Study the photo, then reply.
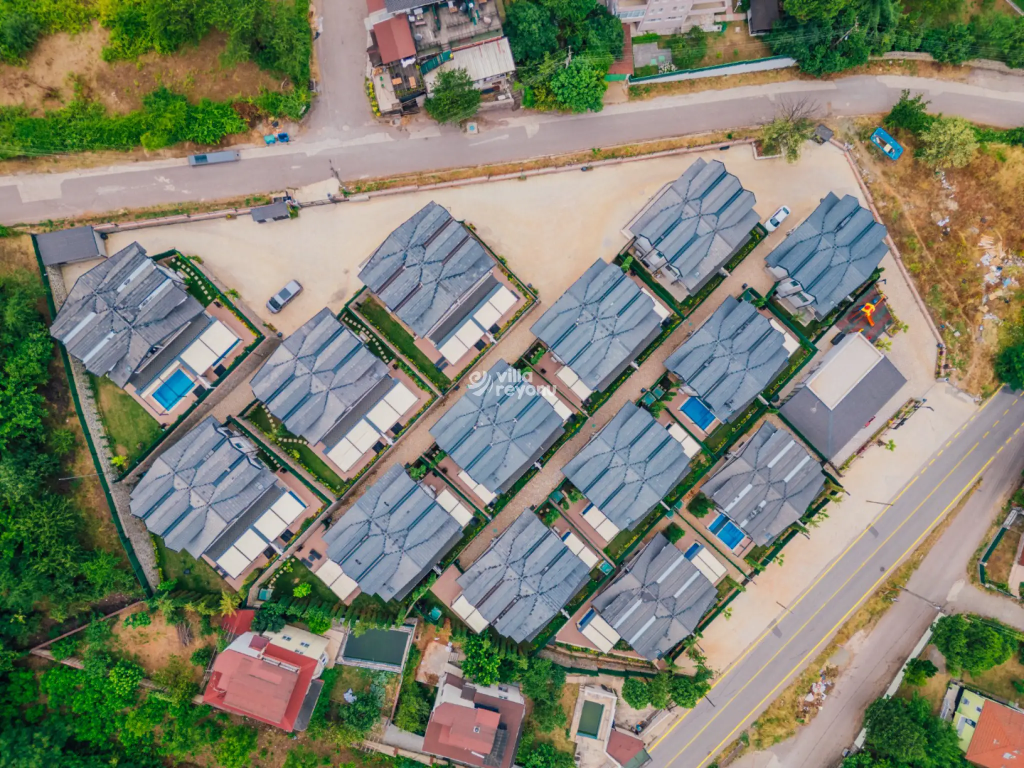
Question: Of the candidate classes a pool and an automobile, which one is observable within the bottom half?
pool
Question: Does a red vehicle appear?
No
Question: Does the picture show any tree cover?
Yes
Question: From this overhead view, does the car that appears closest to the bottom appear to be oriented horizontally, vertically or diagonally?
diagonally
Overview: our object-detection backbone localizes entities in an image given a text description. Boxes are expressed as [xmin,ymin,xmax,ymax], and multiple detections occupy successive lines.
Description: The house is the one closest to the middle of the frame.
[432,358,566,493]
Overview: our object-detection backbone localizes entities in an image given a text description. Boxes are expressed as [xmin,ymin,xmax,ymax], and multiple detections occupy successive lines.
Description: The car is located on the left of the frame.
[266,278,306,315]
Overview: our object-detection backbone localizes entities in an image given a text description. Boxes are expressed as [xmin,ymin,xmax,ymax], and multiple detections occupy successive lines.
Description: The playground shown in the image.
[843,289,893,343]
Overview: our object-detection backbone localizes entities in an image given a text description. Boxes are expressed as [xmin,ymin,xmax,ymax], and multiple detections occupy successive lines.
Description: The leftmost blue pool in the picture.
[150,367,199,414]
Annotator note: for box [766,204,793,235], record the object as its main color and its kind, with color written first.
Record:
white car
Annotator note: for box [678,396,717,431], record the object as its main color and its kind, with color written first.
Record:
blue swimming pool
